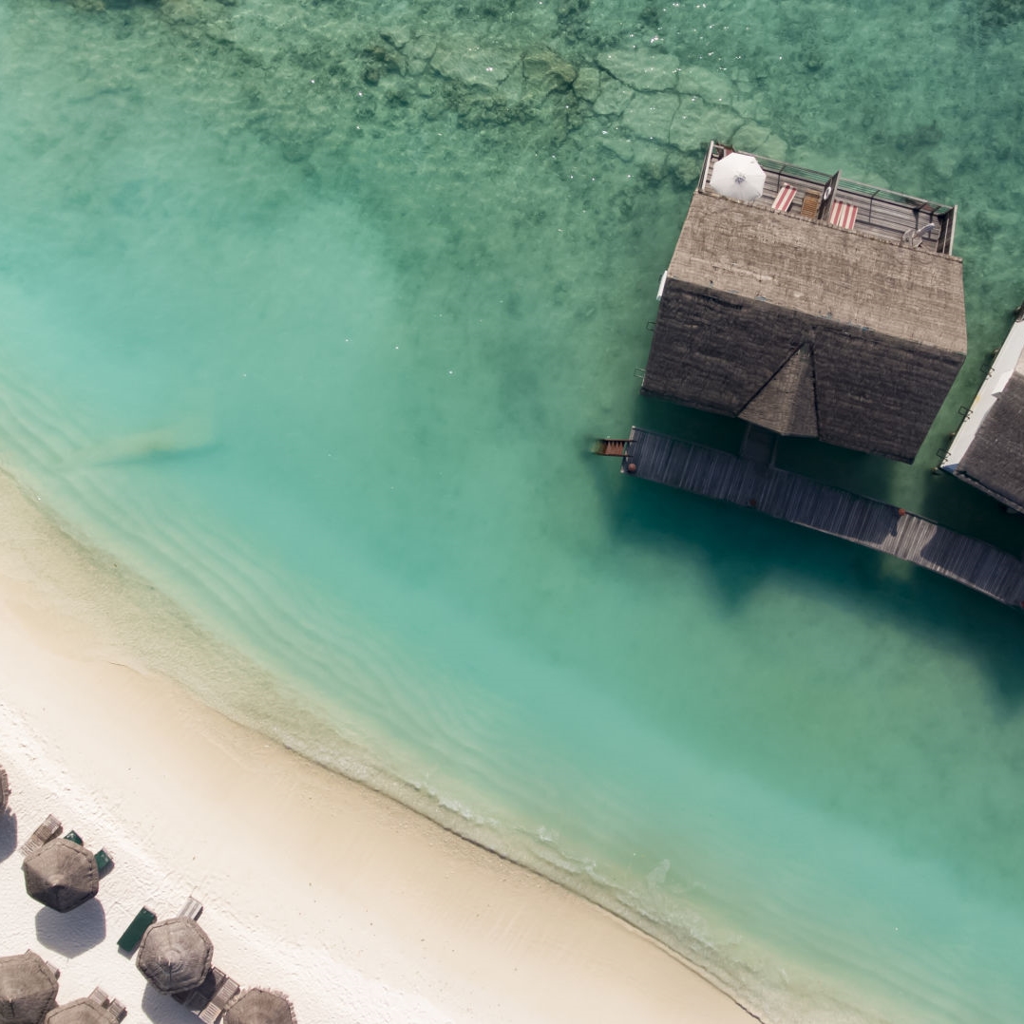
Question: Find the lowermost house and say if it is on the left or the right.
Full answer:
You can find the lowermost house on the right side of the picture.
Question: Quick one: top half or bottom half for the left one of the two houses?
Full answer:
The left one of the two houses sits in the top half of the picture.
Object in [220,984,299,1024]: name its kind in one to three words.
umbrella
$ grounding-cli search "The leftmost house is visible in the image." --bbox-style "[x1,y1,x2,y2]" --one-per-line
[632,140,972,461]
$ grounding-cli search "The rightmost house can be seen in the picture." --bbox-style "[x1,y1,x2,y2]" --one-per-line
[924,312,1024,519]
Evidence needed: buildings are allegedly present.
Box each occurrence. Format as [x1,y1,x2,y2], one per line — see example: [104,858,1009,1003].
[632,140,972,461]
[924,312,1024,519]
